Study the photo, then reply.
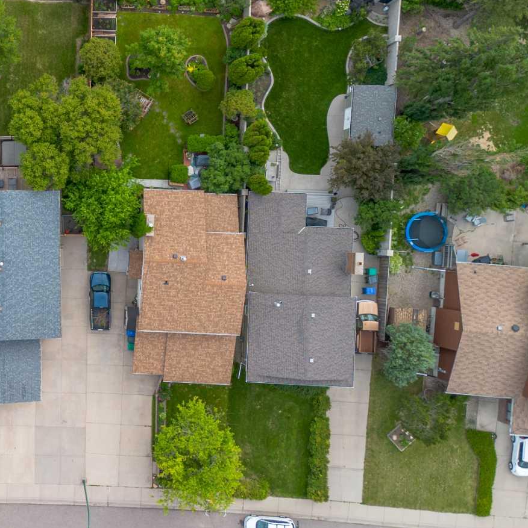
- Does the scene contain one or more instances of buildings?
Yes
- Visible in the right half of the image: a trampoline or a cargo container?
trampoline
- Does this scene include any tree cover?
Yes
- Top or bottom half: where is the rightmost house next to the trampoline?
bottom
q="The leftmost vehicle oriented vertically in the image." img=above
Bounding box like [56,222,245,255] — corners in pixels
[90,273,114,331]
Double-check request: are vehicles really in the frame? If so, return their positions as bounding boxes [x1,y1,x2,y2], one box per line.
[357,300,381,356]
[242,513,297,528]
[510,436,528,477]
[90,273,114,331]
